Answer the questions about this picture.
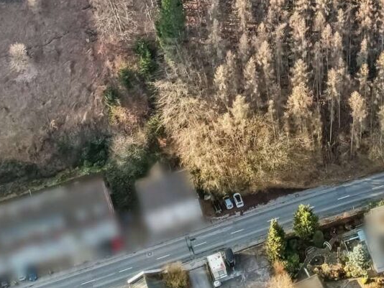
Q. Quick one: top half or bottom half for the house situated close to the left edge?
bottom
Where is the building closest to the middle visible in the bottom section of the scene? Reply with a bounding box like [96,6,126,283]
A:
[139,164,203,232]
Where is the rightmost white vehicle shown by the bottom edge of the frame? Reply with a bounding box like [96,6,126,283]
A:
[210,249,223,287]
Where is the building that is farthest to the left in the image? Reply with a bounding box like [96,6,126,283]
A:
[0,175,123,275]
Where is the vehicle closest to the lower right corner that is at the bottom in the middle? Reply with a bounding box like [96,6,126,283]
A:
[223,248,236,270]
